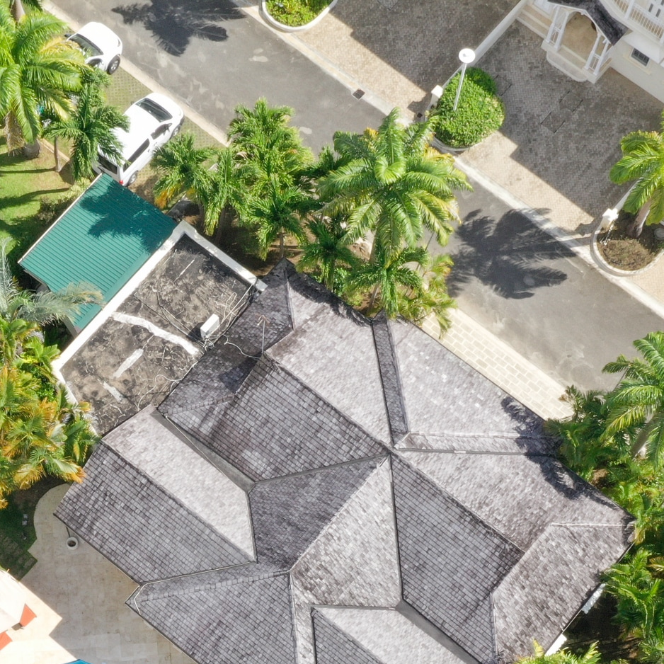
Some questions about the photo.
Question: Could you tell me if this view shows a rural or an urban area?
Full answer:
The area shown here is urban.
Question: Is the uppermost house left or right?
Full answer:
The uppermost house appears in the right half of the scene.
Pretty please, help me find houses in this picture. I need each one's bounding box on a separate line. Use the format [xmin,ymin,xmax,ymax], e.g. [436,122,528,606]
[508,0,664,104]
[52,256,635,664]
